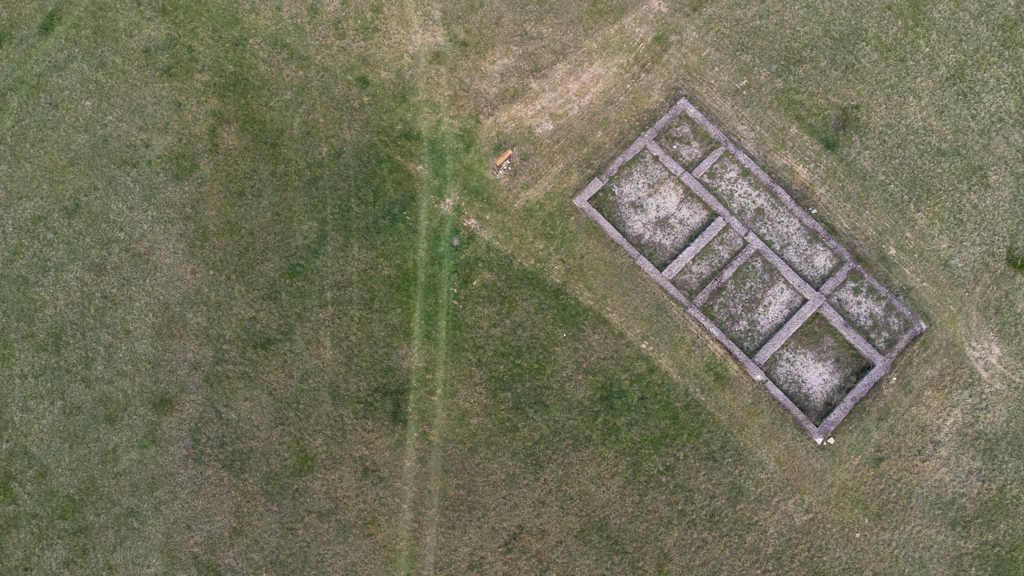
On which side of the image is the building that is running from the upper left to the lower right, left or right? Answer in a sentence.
You can find the building that is running from the upper left to the lower right on the right side of the picture.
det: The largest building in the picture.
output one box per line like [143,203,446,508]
[571,95,926,445]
